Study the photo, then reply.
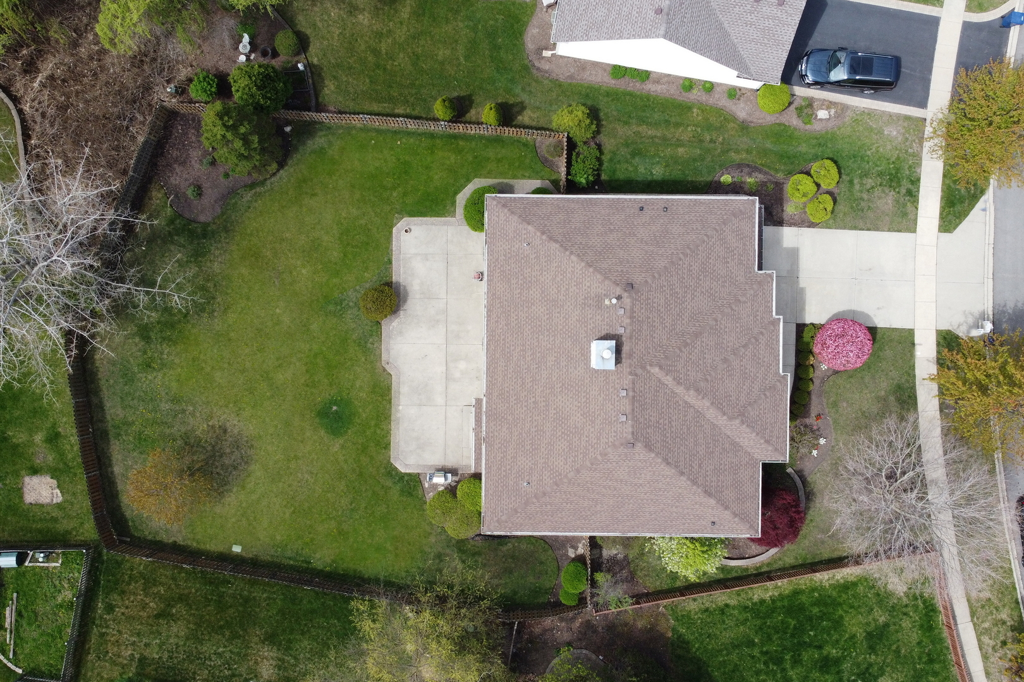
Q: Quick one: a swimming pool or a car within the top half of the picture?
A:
car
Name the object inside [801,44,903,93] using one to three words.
car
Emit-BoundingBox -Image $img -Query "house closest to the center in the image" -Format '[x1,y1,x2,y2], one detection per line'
[471,194,790,538]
